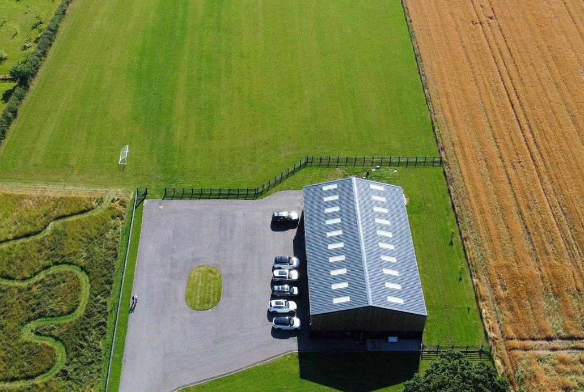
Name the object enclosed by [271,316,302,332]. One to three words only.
car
